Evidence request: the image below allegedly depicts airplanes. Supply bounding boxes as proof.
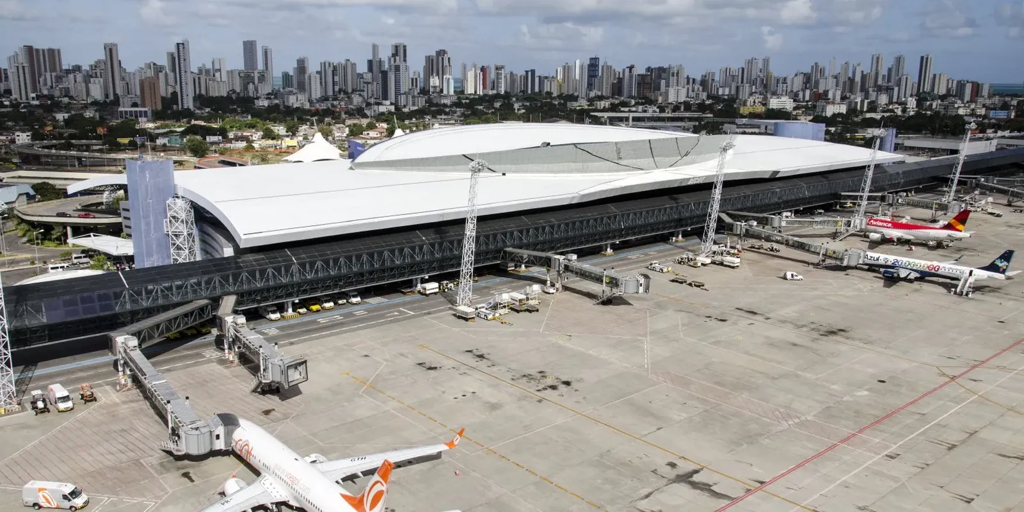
[190,423,461,512]
[842,247,1018,279]
[846,209,974,242]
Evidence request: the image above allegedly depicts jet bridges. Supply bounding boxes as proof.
[714,211,854,270]
[727,209,865,242]
[214,292,314,397]
[833,191,967,222]
[937,175,1024,199]
[509,244,652,305]
[108,293,239,470]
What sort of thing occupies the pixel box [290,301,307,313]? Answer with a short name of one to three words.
vehicle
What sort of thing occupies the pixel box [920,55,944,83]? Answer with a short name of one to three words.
building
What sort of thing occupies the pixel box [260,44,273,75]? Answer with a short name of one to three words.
building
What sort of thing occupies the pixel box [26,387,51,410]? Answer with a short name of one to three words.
work vehicle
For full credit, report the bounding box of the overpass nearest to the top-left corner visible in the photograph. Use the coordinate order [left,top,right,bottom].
[15,137,284,168]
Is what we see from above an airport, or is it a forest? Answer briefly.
airport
